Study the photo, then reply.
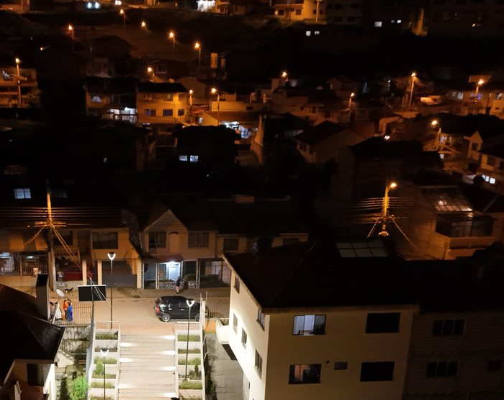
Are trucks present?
No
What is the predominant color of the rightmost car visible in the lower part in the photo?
black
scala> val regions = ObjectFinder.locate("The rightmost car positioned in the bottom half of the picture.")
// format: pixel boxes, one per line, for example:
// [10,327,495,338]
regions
[153,295,200,318]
